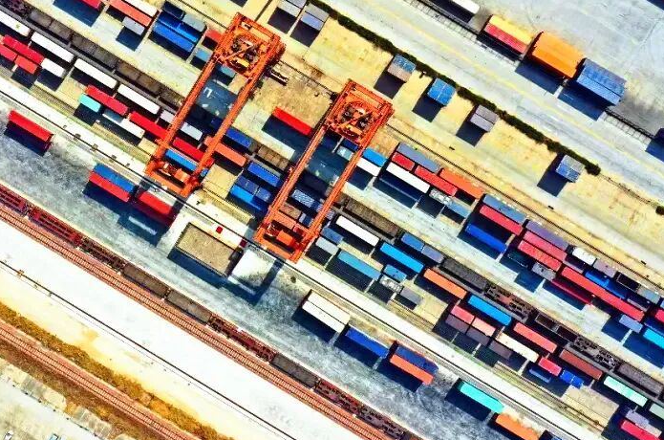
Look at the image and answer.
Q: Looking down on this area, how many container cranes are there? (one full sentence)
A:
I count 2 container cranes.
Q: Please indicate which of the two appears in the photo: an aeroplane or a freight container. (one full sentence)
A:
Of the two, only a freight container appears.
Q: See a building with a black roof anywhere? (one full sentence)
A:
No, there's no building with a black roof here.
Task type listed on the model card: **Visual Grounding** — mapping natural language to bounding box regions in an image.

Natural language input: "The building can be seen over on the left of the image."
[175,222,238,274]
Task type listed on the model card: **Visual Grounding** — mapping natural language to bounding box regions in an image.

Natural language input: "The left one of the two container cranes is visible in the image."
[143,14,279,206]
